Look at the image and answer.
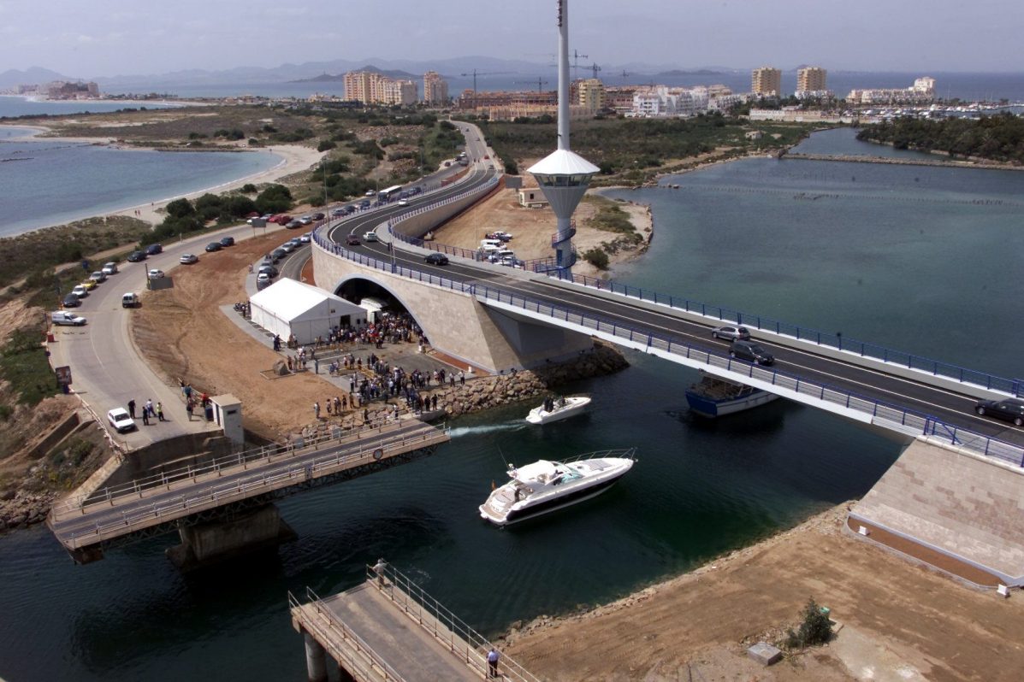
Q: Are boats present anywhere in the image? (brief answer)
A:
Yes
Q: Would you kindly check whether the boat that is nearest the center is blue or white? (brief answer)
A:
white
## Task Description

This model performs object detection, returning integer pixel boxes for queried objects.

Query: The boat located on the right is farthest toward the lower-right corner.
[688,375,789,420]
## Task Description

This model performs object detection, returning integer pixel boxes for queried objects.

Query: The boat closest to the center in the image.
[521,390,589,424]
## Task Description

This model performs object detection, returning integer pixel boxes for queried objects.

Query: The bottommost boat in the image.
[473,442,639,529]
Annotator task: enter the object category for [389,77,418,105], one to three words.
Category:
building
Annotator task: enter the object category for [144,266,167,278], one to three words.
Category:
vehicle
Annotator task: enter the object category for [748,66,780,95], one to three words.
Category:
building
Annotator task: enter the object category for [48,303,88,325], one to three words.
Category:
vehicle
